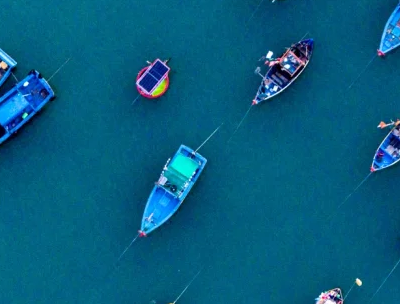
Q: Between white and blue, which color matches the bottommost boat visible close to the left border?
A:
blue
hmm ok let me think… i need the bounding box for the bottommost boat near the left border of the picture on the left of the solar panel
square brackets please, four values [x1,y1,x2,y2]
[0,70,59,145]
